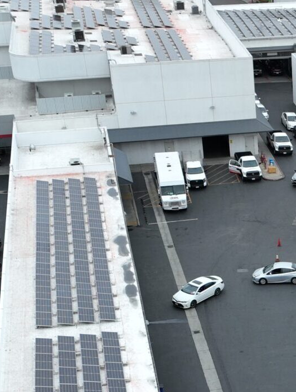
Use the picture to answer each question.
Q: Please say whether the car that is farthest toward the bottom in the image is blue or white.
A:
white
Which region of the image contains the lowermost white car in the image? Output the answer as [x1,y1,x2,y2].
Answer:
[178,279,231,312]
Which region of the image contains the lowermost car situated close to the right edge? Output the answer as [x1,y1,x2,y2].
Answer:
[251,259,296,283]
